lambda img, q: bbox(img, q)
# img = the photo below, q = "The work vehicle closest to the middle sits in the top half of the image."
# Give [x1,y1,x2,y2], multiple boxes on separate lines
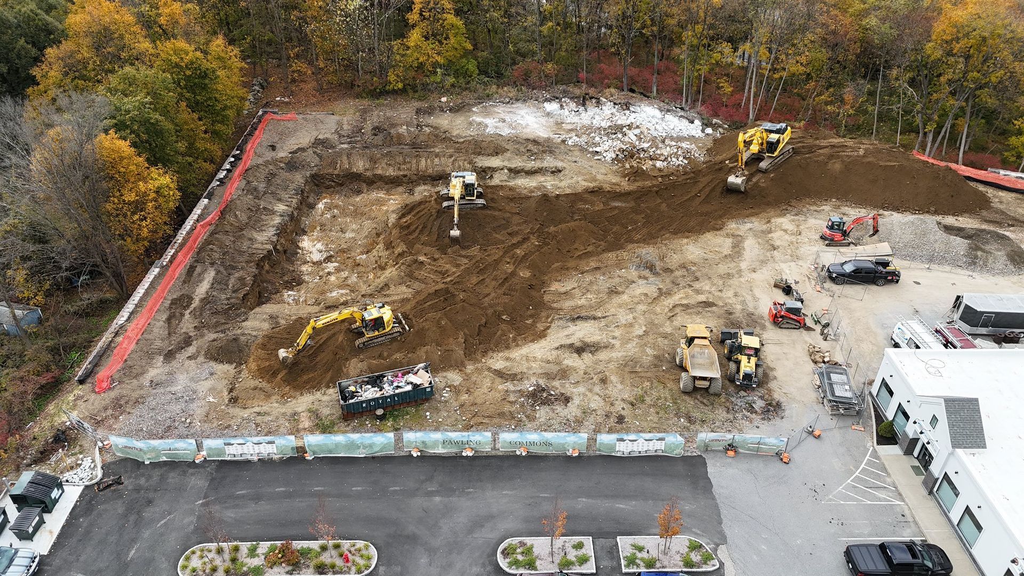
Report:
[442,178,482,235]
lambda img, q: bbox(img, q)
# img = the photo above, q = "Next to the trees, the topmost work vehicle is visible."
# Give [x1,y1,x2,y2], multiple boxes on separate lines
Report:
[720,121,792,190]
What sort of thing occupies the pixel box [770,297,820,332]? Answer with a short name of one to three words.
work vehicle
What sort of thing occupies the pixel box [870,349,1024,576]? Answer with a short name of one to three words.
building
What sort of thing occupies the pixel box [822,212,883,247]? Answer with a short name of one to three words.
work vehicle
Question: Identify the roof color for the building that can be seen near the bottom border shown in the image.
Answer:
white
